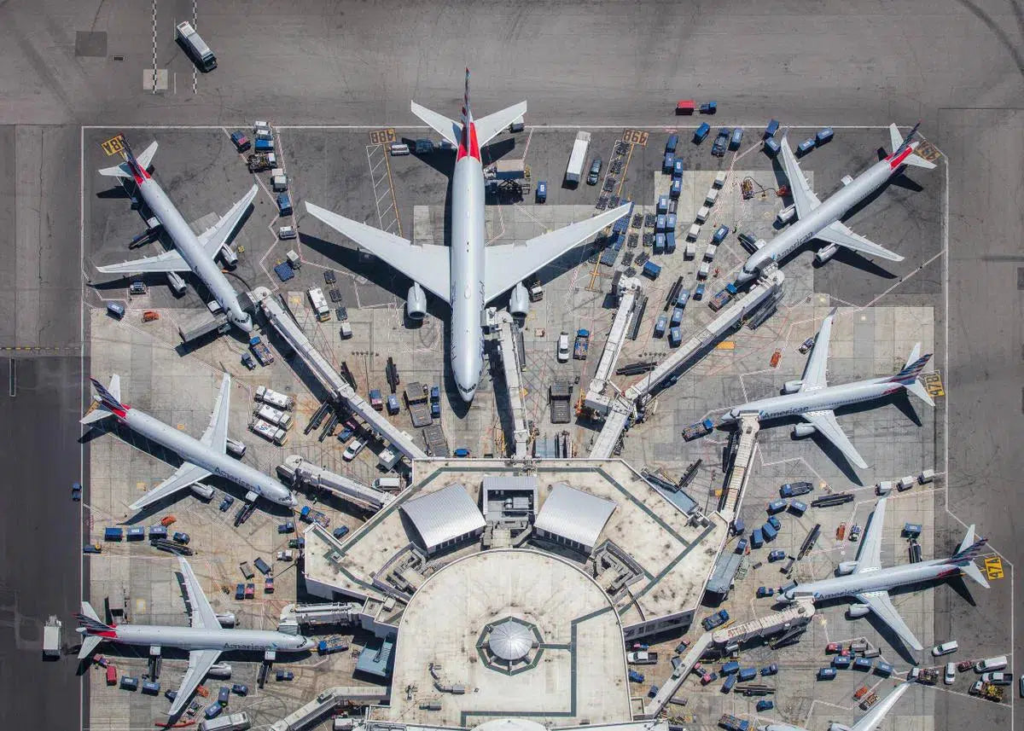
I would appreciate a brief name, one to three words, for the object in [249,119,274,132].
vehicle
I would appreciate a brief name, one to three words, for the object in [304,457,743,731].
building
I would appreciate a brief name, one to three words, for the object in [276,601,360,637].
jet bridge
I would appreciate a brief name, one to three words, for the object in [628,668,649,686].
work vehicle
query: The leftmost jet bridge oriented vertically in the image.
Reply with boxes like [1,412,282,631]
[479,305,531,462]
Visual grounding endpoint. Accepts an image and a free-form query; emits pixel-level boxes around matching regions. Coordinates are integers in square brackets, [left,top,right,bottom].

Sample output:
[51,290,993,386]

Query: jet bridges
[259,686,391,731]
[274,451,397,510]
[644,591,819,720]
[276,601,360,637]
[588,269,643,406]
[579,258,786,458]
[237,283,422,470]
[479,305,531,462]
[718,406,761,538]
